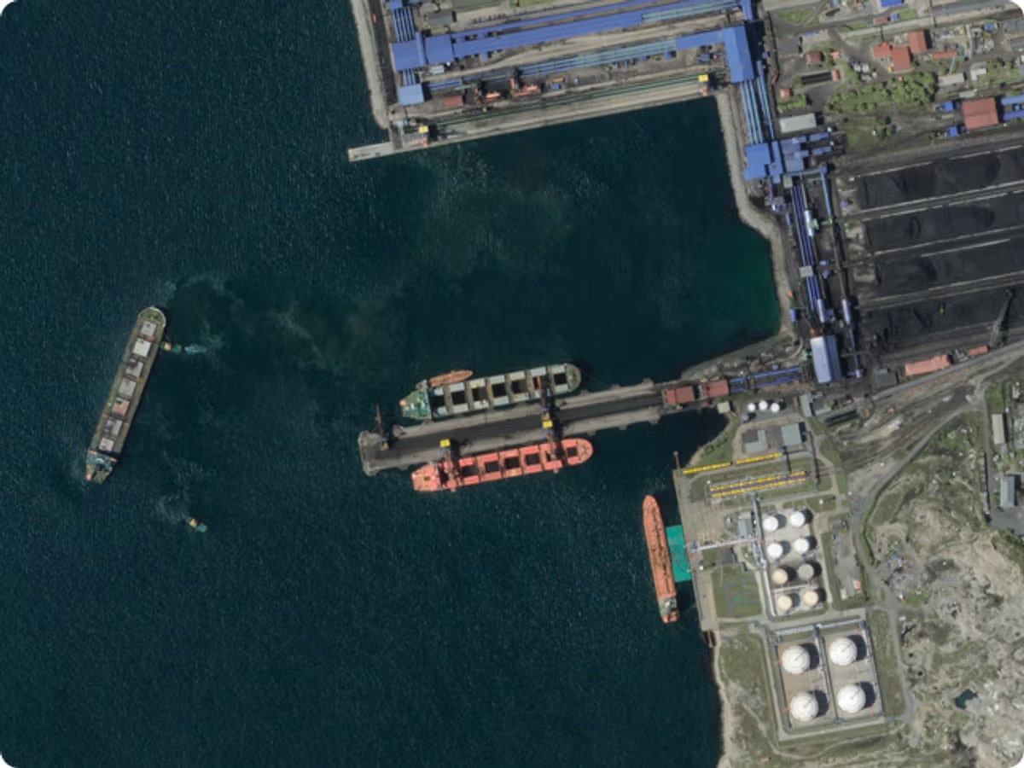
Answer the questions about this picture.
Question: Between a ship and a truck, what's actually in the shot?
ship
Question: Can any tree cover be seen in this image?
No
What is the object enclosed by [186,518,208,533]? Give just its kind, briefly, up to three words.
boat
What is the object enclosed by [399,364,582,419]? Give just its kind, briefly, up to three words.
ship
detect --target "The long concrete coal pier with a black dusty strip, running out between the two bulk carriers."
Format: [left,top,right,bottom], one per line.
[358,376,725,475]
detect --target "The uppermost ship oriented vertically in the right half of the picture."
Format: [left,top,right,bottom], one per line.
[645,495,679,624]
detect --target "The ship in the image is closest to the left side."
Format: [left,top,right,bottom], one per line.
[86,308,166,484]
